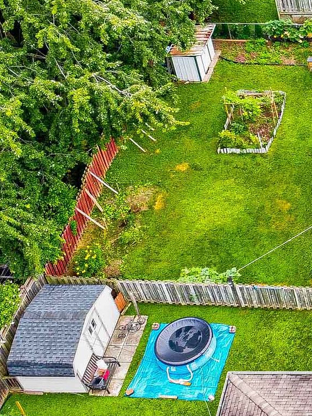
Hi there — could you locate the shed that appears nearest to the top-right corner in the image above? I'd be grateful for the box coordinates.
[165,21,220,83]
